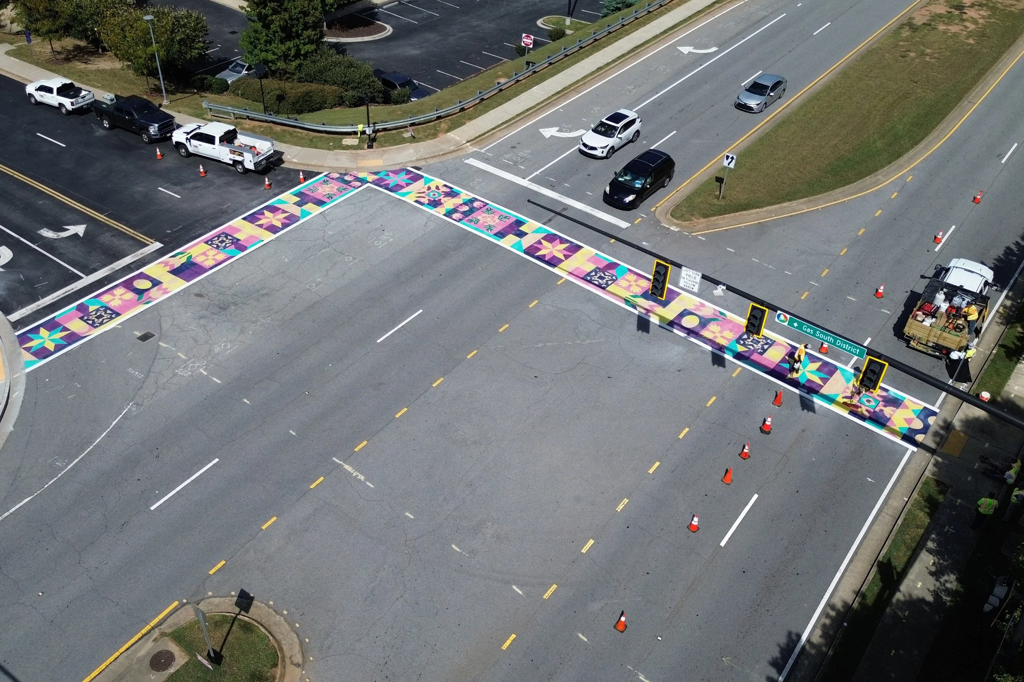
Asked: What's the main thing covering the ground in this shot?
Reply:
paved ground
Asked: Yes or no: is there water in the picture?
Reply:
No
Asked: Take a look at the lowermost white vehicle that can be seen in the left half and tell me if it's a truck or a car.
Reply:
truck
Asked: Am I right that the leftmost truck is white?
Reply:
Yes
